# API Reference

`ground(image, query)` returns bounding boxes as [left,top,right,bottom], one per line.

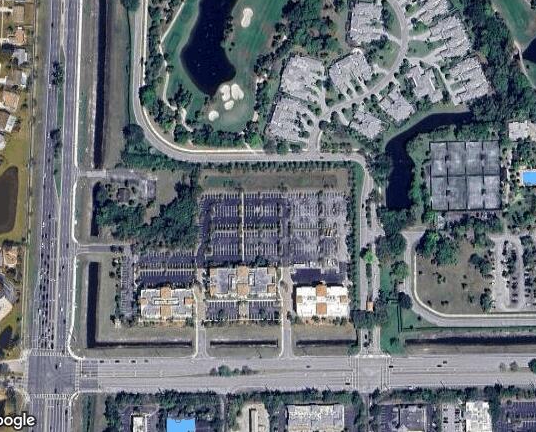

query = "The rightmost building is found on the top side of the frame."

[508,122,536,141]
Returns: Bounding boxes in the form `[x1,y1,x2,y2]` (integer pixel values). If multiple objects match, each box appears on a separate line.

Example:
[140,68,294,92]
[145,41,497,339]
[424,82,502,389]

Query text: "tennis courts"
[483,177,499,208]
[431,142,445,174]
[466,177,481,208]
[483,142,499,174]
[466,142,481,174]
[448,177,463,208]
[448,142,463,174]
[431,177,445,208]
